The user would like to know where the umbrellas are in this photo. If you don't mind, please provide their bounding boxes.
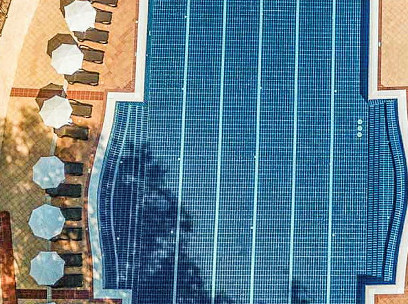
[31,154,73,190]
[39,92,81,128]
[62,0,104,34]
[28,246,73,287]
[27,201,73,242]
[52,42,91,75]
